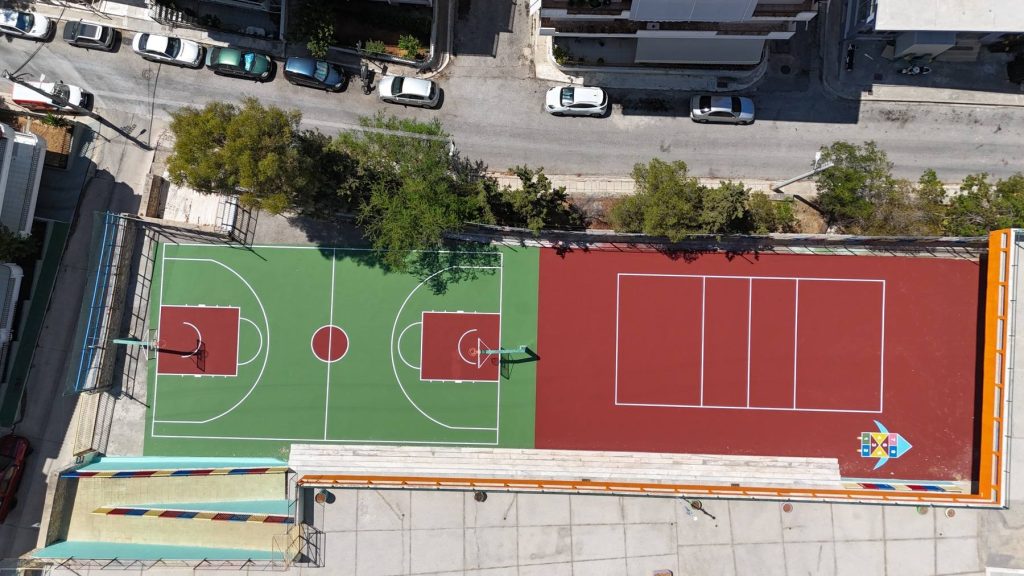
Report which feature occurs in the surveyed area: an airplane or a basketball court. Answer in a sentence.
This aerial view contains a basketball court.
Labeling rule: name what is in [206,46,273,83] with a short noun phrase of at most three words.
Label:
car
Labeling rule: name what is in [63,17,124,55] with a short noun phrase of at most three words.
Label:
car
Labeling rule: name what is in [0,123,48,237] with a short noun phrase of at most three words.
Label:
building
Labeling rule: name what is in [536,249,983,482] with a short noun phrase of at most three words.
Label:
sports court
